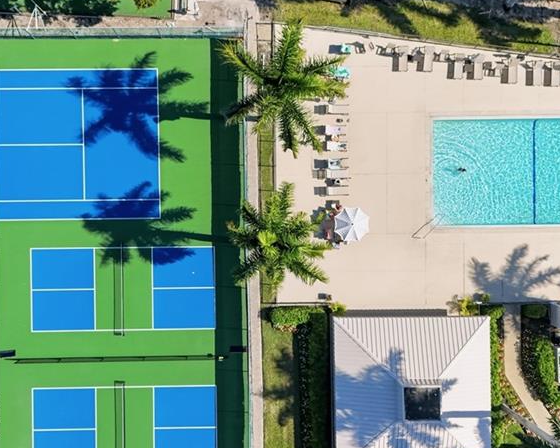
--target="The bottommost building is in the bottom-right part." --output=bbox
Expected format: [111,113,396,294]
[331,315,493,448]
